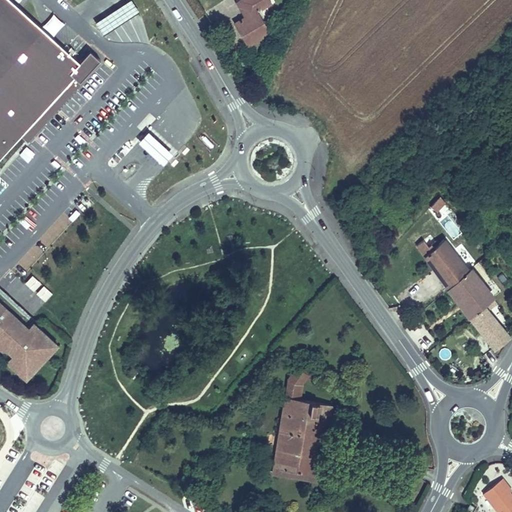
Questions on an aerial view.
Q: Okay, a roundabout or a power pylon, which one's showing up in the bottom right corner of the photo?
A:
roundabout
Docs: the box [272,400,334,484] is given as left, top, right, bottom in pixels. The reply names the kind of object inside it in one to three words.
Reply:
house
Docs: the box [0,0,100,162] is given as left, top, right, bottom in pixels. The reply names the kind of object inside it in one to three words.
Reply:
building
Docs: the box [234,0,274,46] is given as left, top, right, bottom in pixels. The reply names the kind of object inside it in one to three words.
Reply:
house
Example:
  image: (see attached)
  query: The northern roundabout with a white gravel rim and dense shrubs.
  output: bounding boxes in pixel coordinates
[225,118,312,210]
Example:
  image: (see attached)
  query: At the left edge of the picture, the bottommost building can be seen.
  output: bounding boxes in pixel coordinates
[0,295,60,382]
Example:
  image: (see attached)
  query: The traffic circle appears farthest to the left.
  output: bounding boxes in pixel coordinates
[24,390,81,455]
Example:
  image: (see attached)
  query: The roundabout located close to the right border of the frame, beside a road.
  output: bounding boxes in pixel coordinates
[429,380,512,486]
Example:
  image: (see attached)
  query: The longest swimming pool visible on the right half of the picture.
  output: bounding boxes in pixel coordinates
[441,216,460,238]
